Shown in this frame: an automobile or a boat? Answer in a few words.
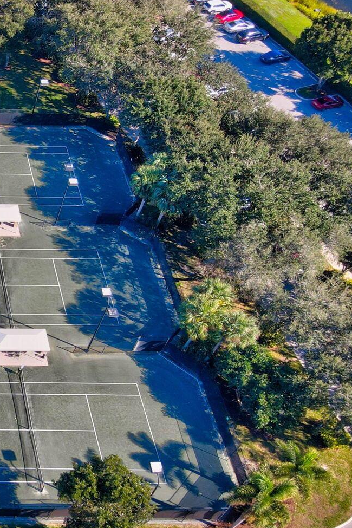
automobile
